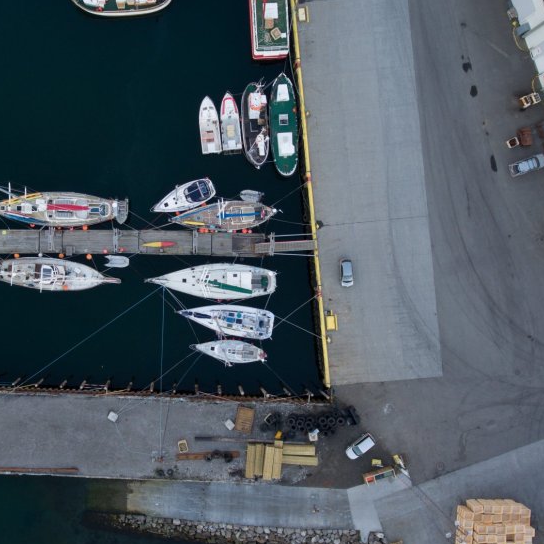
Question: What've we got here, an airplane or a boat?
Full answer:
This aerial view contains a boat.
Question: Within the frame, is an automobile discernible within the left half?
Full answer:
No, looking within the left half, there is no automobile.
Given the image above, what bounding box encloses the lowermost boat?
[191,339,267,371]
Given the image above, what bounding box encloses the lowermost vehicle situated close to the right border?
[511,154,544,175]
